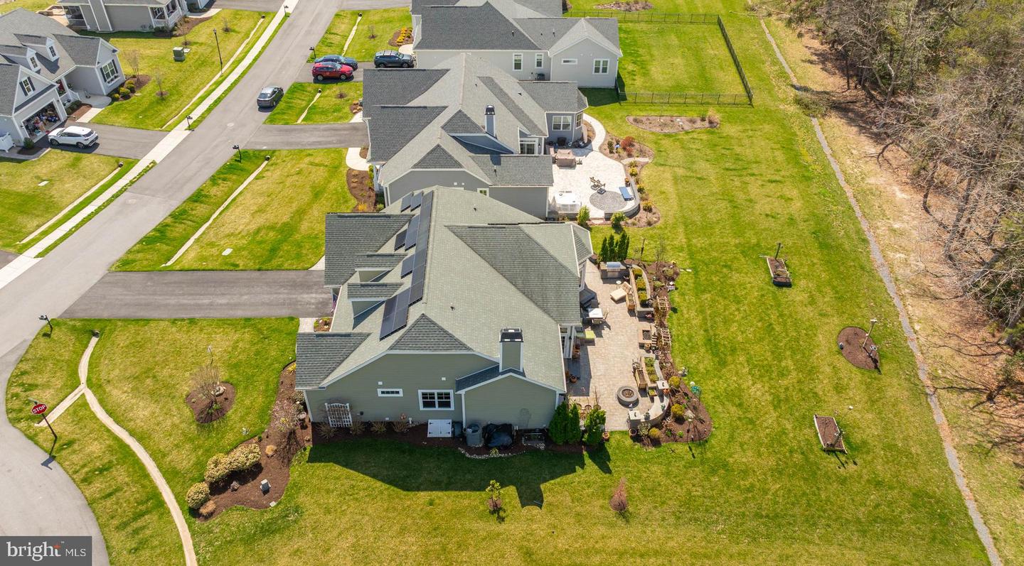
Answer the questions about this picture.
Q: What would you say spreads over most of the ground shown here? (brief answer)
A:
grass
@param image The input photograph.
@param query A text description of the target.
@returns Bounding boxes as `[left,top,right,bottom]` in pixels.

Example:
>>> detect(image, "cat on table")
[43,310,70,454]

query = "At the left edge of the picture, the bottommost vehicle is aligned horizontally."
[45,125,99,149]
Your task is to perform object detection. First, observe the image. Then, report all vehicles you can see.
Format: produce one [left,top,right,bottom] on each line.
[314,52,360,68]
[371,48,415,68]
[310,60,353,80]
[251,85,285,109]
[45,125,99,149]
